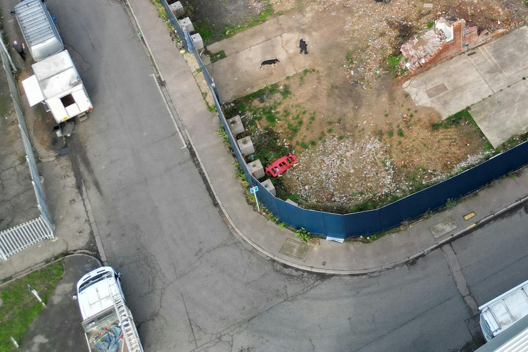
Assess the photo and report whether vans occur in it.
Yes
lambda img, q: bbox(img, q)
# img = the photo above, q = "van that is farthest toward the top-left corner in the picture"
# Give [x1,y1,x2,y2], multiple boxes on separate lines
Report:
[16,5,67,64]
